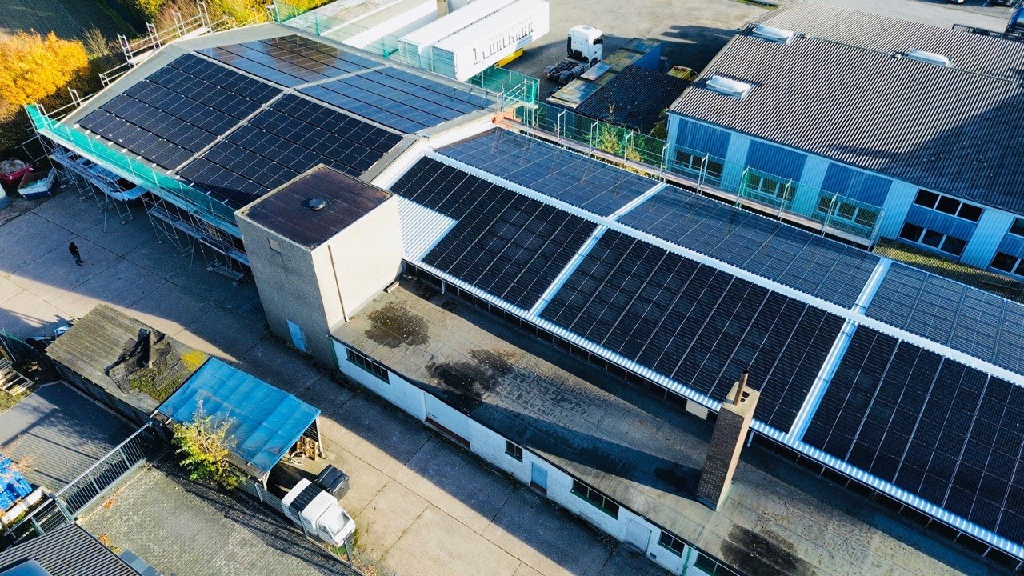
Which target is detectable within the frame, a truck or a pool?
truck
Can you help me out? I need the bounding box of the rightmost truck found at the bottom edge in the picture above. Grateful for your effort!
[279,481,361,555]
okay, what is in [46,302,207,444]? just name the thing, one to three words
shed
